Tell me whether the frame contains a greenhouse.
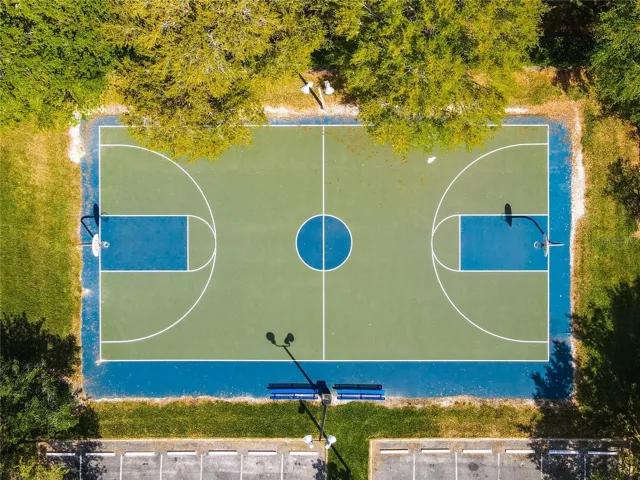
No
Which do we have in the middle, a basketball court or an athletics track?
basketball court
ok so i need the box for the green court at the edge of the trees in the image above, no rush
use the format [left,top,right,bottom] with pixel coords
[81,114,574,400]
